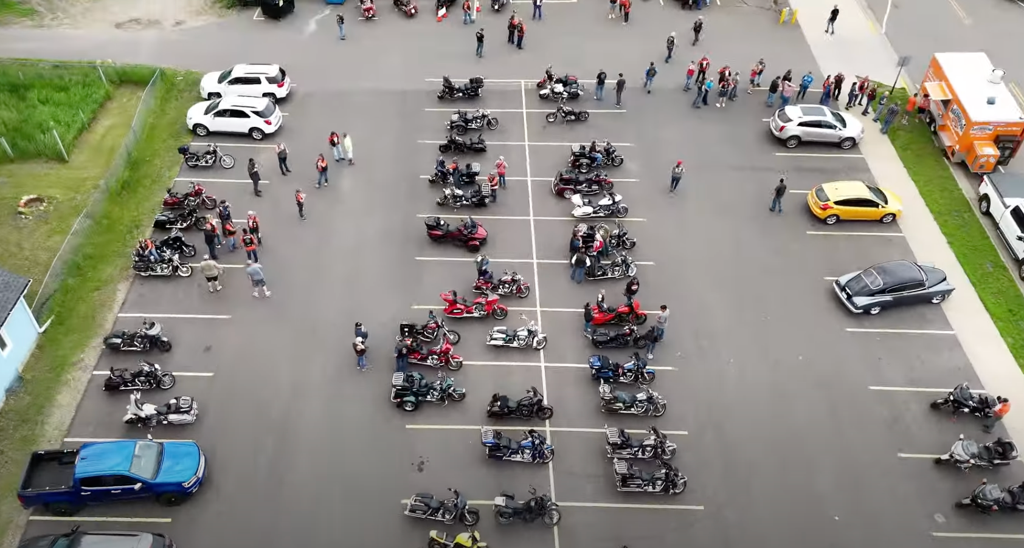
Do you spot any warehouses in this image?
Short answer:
No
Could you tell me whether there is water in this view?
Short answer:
No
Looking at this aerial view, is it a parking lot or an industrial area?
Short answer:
parking lot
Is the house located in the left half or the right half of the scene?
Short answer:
left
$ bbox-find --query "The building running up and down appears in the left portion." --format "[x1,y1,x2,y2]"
[0,272,58,411]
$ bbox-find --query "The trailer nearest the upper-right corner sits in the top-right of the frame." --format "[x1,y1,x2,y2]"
[917,51,1024,174]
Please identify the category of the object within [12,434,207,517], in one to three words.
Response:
truck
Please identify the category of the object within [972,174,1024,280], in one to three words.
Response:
truck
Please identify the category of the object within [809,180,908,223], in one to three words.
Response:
car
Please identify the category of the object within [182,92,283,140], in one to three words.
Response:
car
